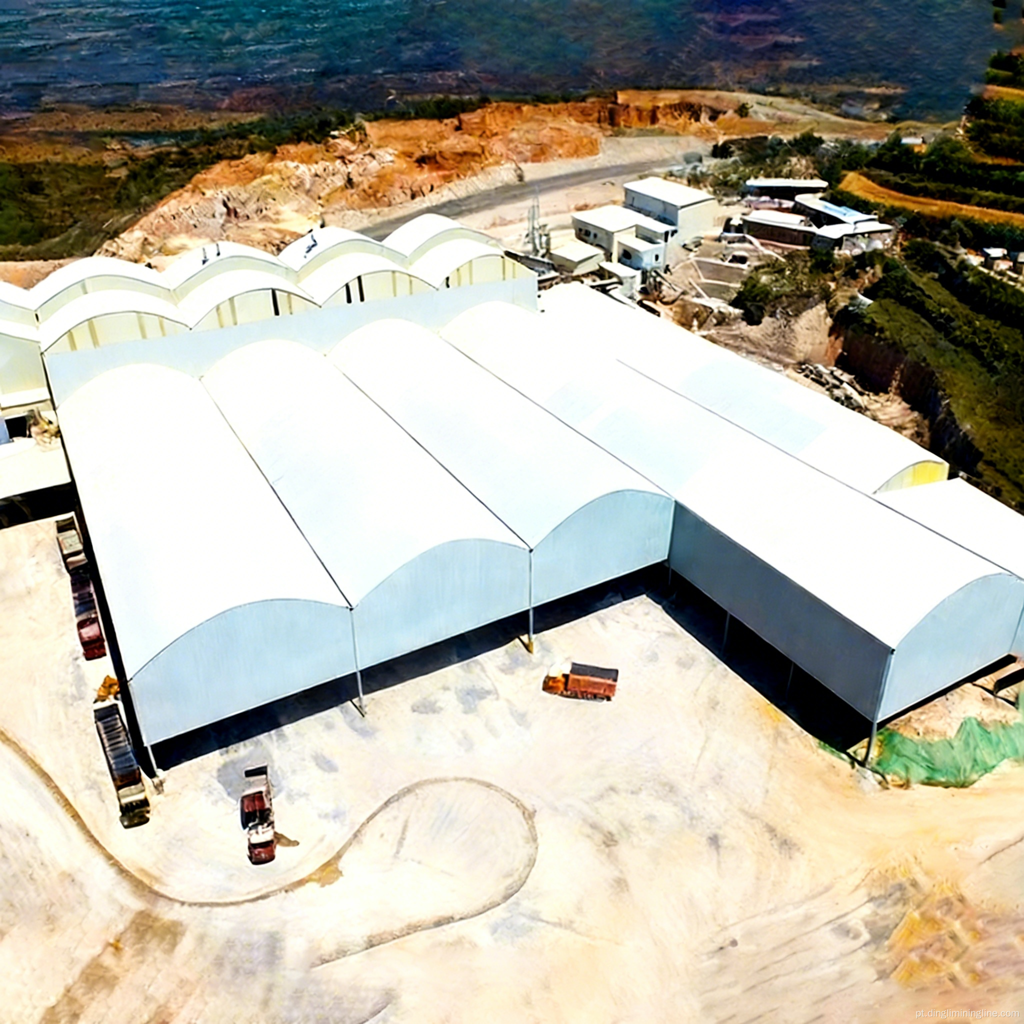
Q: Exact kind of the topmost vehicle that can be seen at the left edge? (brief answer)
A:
truck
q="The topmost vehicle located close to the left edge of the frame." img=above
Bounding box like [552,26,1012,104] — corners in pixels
[42,503,90,566]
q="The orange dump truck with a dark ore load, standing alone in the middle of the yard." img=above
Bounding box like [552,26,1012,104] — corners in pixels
[538,661,614,700]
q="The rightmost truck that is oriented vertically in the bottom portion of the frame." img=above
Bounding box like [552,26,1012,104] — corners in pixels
[236,754,274,862]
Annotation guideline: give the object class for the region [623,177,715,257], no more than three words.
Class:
house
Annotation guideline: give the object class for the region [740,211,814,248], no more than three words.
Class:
building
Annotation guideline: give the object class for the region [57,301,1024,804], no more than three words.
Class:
warehouse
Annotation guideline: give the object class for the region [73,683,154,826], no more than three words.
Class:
truck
